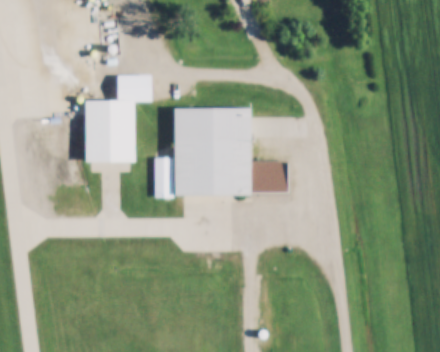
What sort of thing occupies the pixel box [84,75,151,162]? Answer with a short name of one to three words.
shed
